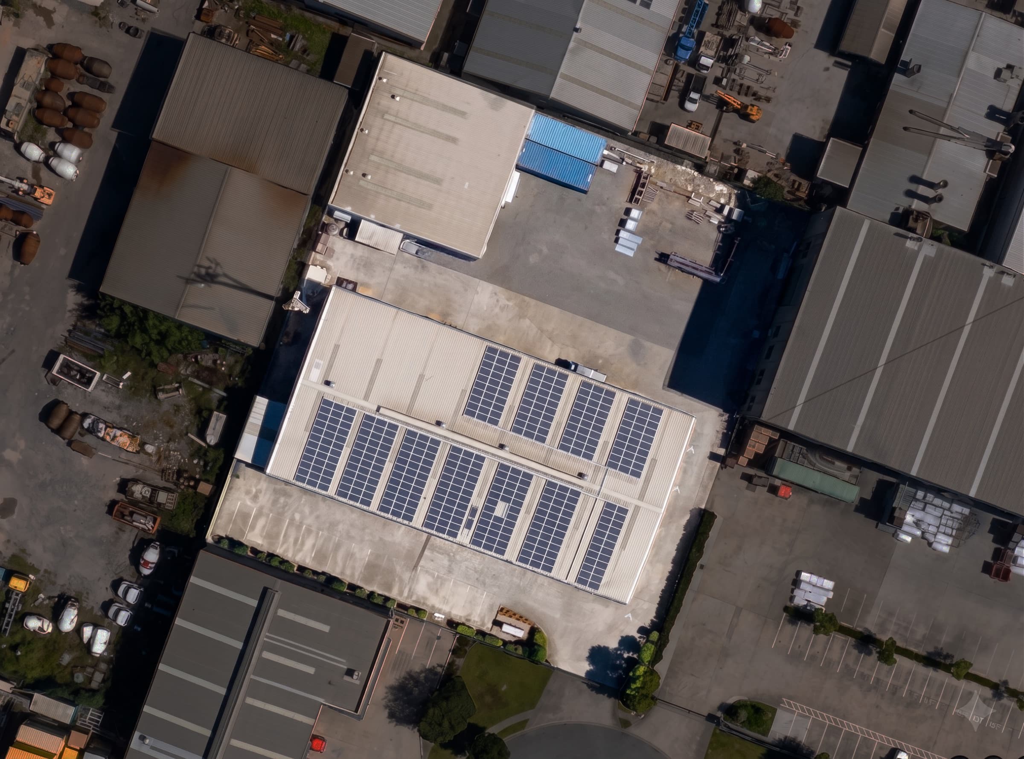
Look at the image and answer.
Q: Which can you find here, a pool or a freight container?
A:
freight container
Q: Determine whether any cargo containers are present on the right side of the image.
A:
Yes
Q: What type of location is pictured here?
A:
industrial area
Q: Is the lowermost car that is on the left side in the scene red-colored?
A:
Yes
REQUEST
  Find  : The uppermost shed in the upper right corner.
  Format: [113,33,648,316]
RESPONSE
[833,0,908,69]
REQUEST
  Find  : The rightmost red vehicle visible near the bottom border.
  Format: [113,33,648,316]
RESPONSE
[308,732,334,753]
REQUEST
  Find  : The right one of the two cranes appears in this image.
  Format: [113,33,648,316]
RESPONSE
[715,89,765,131]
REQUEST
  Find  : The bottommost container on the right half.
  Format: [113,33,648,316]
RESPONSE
[766,457,860,504]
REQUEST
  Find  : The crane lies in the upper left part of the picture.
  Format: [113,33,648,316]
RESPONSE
[0,172,66,212]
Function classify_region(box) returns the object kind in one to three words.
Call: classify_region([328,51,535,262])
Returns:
building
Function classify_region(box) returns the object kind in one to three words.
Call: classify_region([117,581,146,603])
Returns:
car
